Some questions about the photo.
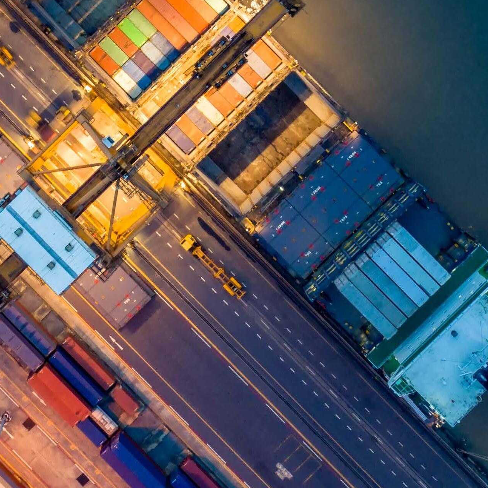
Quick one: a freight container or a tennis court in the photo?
freight container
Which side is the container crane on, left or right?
left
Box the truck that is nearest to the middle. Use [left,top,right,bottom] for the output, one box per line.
[178,232,248,304]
